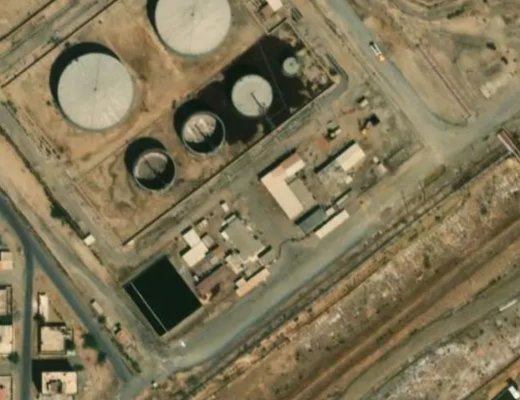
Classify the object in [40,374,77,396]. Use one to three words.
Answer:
house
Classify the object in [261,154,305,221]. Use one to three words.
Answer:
building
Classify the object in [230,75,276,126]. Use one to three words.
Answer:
storage tank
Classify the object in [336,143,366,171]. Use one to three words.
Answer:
building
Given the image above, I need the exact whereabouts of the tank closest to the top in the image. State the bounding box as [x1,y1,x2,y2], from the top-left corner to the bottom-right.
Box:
[153,0,233,58]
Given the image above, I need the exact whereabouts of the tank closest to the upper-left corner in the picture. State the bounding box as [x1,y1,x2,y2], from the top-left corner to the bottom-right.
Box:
[56,53,136,132]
